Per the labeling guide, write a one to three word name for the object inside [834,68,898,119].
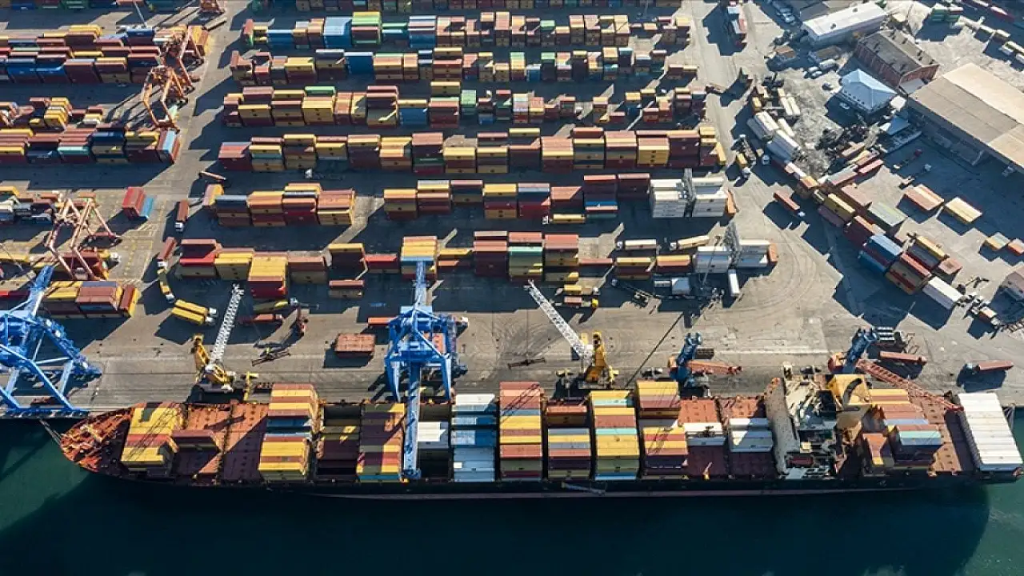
building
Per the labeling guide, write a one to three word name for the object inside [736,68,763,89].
work vehicle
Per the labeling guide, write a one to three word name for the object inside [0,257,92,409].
container crane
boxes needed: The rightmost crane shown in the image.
[822,329,969,442]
